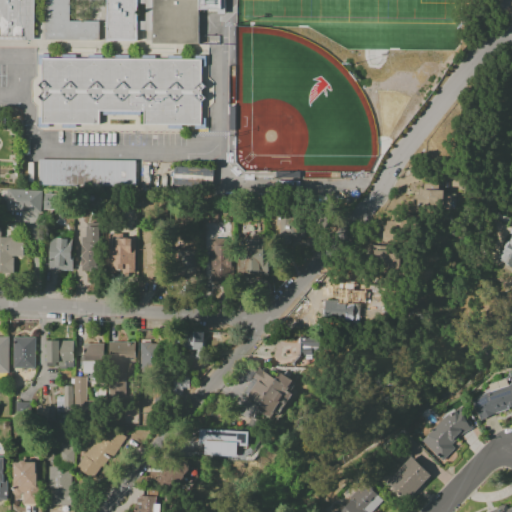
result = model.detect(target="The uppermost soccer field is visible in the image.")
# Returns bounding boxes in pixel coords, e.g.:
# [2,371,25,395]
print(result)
[238,0,473,50]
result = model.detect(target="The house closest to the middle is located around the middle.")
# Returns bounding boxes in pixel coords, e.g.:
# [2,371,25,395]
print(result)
[238,248,264,274]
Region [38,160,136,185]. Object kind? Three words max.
building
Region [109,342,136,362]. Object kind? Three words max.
house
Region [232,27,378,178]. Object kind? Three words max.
baseball field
